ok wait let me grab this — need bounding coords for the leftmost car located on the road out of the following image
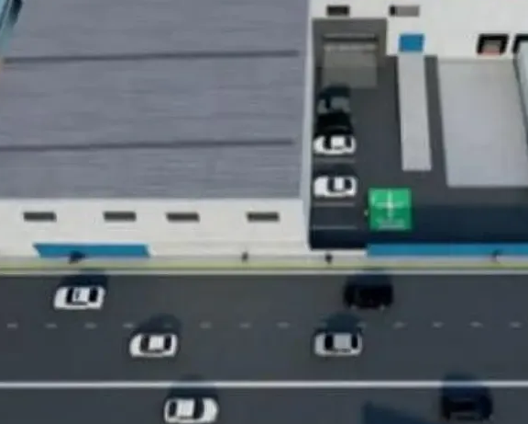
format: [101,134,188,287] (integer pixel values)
[55,282,105,310]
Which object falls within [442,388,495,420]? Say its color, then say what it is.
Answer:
black car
